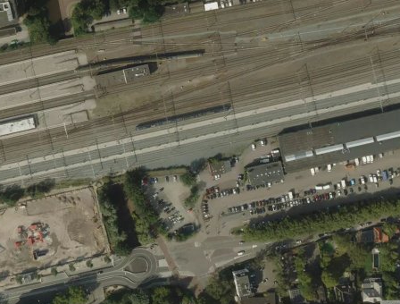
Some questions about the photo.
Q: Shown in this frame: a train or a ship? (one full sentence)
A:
It is a train that can be seen here.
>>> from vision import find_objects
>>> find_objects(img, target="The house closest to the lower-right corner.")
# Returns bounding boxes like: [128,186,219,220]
[362,279,382,302]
